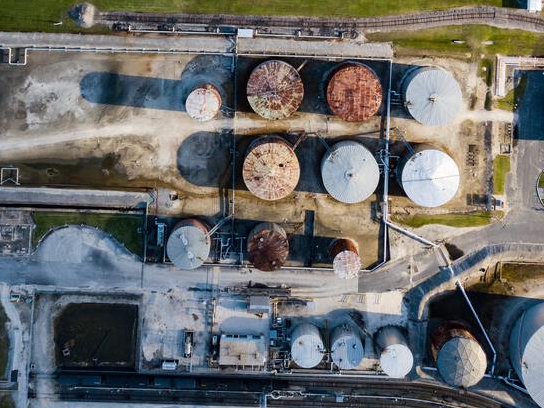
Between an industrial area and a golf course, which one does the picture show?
industrial area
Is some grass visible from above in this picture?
Yes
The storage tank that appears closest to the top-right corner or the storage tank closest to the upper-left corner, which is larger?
the storage tank that appears closest to the top-right corner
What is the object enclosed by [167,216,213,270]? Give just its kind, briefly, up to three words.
storage tank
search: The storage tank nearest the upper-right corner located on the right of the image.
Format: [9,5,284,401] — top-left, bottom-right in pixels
[399,64,463,126]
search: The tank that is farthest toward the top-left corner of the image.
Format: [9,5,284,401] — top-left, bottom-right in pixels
[186,79,226,122]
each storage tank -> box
[186,79,226,122]
[318,136,379,202]
[290,319,326,367]
[428,318,488,389]
[324,61,383,121]
[328,319,364,368]
[167,216,213,270]
[399,64,463,126]
[373,324,414,378]
[242,133,302,198]
[329,237,361,279]
[246,57,307,119]
[396,141,459,207]
[509,301,544,407]
[247,221,290,272]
